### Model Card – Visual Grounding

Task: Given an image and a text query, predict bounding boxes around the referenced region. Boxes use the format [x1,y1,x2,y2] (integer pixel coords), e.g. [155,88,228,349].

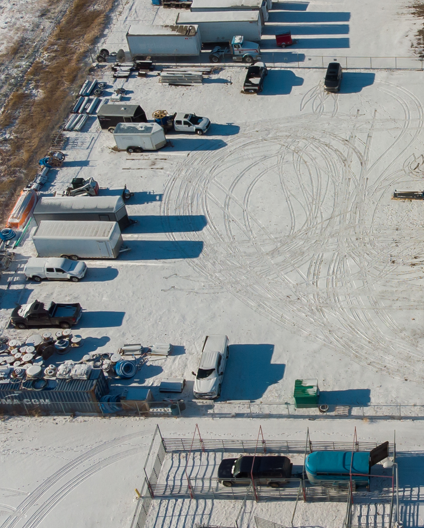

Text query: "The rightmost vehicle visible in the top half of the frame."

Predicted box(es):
[322,60,344,89]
